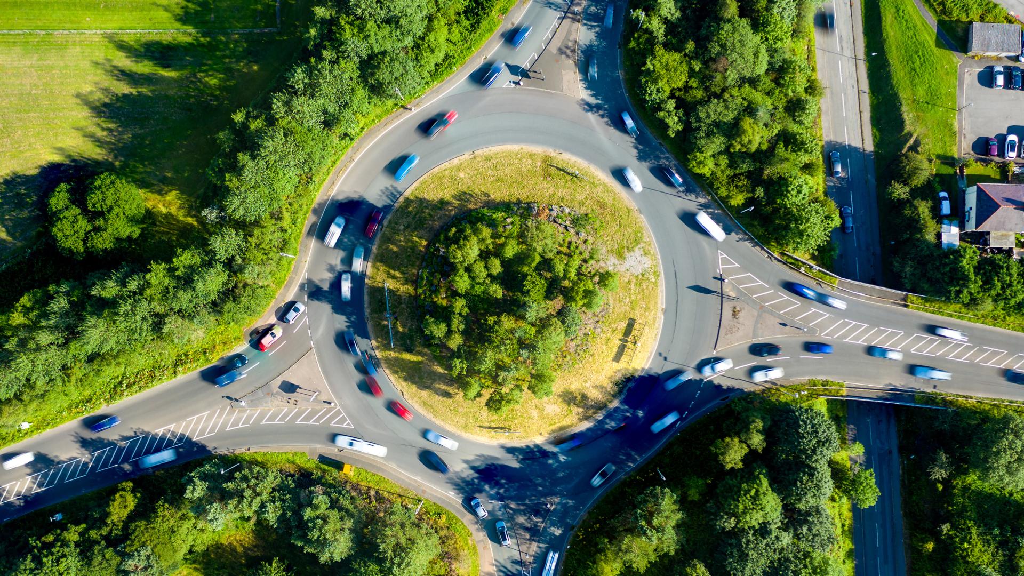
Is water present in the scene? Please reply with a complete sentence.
No, water can't be seen anywhere here.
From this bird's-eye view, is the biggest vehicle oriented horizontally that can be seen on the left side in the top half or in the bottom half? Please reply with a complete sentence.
The bottom half of the photo is where the biggest vehicle oriented horizontally that can be seen on the left side is.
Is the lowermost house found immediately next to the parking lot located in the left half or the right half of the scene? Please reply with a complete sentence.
You can find the lowermost house found immediately next to the parking lot on the right side of the picture.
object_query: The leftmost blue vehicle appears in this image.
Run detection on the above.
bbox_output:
[91,414,120,433]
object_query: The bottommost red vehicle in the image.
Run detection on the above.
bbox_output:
[390,399,415,425]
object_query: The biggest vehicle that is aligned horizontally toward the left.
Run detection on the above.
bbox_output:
[335,432,387,458]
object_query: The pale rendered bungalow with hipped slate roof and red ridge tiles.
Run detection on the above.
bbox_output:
[967,181,1024,231]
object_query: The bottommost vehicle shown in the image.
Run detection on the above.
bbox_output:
[539,547,561,576]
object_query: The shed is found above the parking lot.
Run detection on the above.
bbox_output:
[965,22,1022,56]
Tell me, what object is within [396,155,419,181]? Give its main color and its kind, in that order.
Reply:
blue car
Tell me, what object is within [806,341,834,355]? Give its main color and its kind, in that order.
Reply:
blue car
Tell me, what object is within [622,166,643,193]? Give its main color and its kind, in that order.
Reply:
white car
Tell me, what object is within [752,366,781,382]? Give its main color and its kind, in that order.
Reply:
white car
